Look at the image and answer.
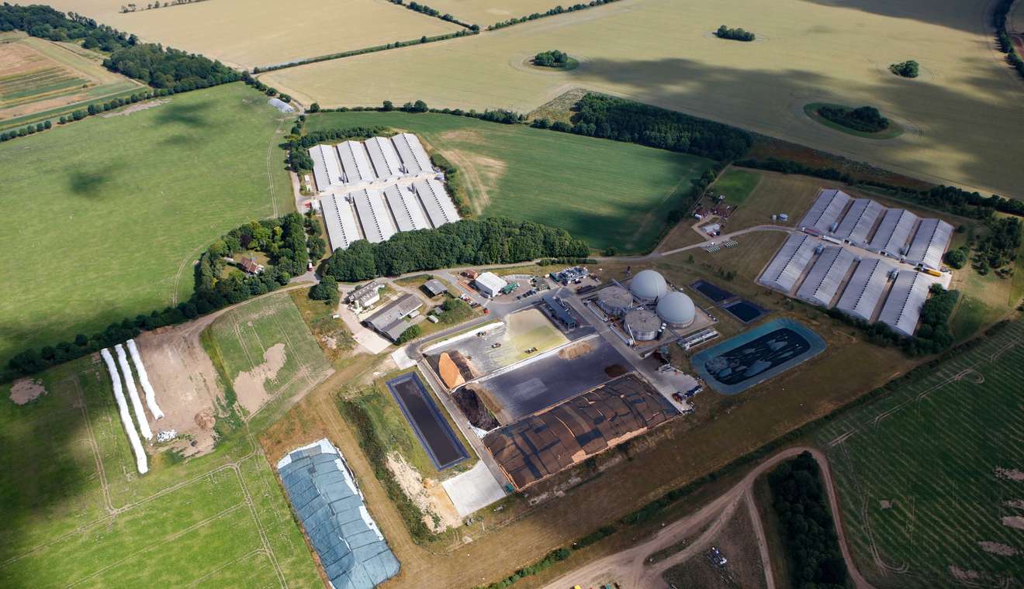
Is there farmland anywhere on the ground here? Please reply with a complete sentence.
Yes, there's farmland in this view.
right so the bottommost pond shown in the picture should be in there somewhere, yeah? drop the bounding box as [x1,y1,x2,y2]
[380,369,477,477]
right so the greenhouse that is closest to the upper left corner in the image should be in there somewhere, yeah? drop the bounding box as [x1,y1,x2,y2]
[264,95,297,113]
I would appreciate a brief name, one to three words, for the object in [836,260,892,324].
shed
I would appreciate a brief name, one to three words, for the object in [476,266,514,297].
building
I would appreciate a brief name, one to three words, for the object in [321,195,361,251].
shed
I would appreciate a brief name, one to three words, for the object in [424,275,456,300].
barn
